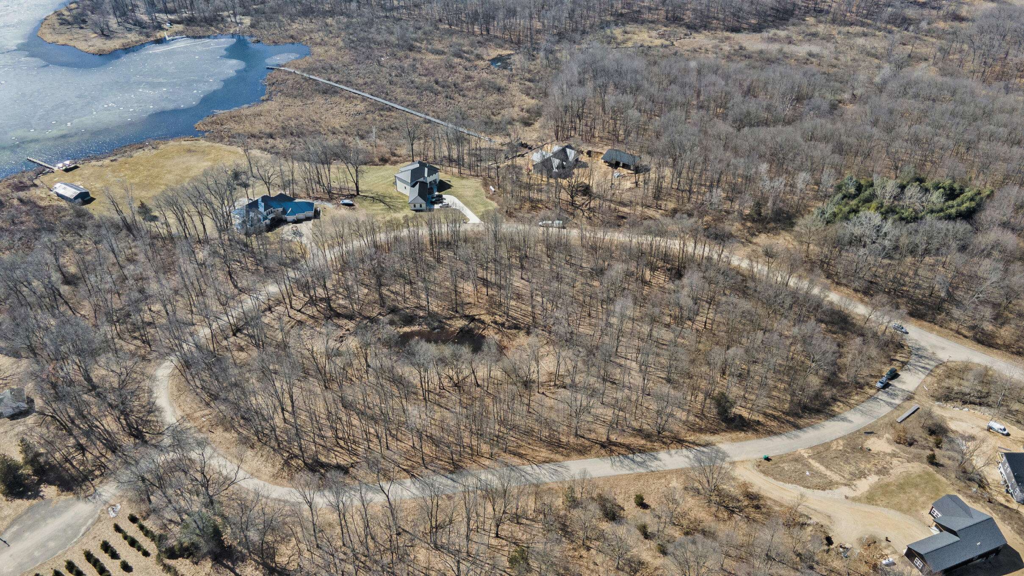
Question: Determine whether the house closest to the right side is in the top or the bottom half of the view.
bottom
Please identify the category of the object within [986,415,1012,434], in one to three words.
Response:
vehicle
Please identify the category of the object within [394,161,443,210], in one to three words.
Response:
house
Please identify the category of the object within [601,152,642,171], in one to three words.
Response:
building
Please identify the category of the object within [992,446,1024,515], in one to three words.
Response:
house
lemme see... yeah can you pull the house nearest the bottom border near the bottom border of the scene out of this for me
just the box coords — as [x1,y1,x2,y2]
[903,495,1004,576]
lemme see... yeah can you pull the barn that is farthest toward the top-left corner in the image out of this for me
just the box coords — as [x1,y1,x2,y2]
[53,183,92,206]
